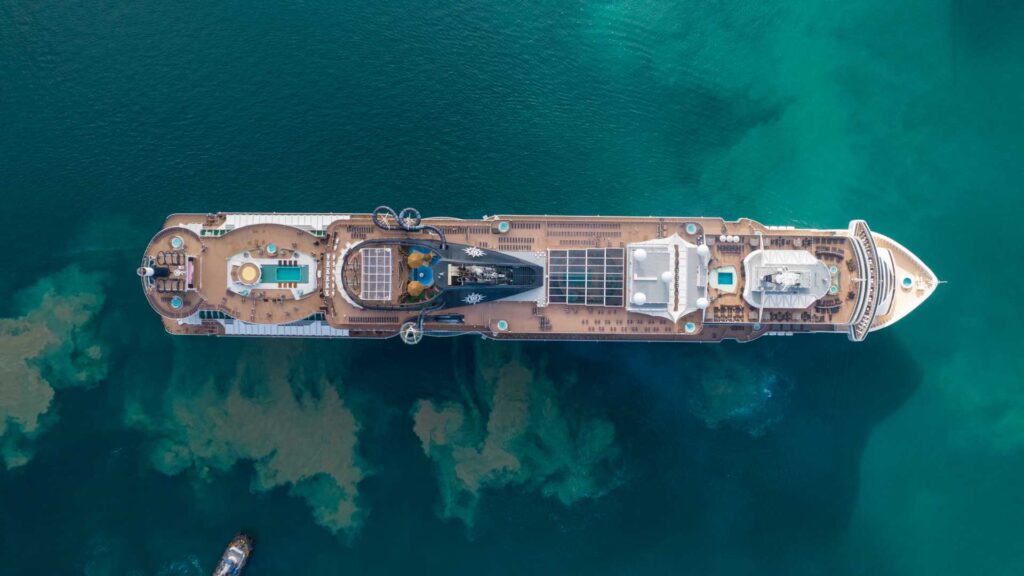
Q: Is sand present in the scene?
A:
No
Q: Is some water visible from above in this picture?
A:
Yes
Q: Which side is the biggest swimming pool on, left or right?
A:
left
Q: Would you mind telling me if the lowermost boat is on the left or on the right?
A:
left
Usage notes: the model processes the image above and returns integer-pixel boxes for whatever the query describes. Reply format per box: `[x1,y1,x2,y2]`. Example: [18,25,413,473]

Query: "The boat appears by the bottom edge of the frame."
[209,532,251,576]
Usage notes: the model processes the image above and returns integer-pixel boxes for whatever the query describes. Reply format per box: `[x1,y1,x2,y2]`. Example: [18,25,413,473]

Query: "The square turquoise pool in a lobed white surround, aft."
[227,251,318,299]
